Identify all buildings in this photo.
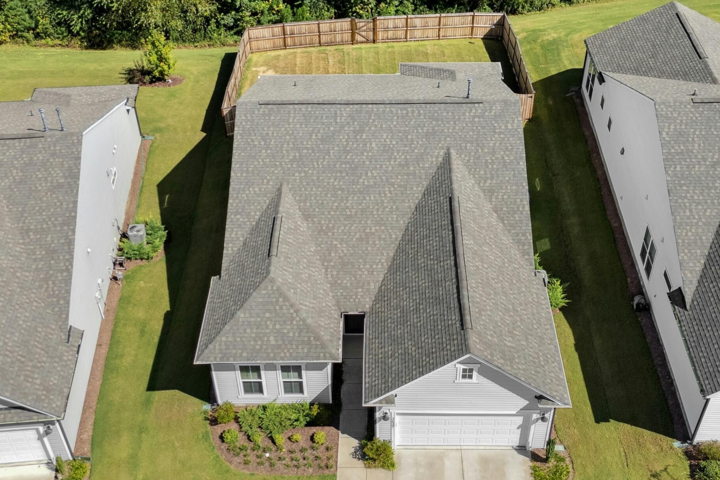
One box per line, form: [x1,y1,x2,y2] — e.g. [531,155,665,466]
[0,84,146,462]
[579,0,720,442]
[192,61,574,448]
